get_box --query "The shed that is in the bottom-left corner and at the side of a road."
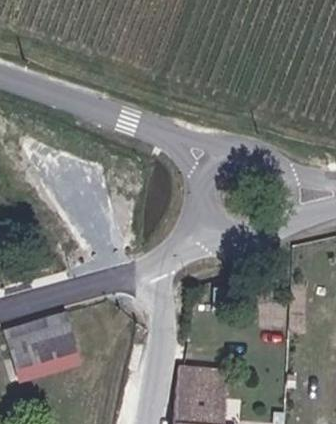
[4,312,86,384]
